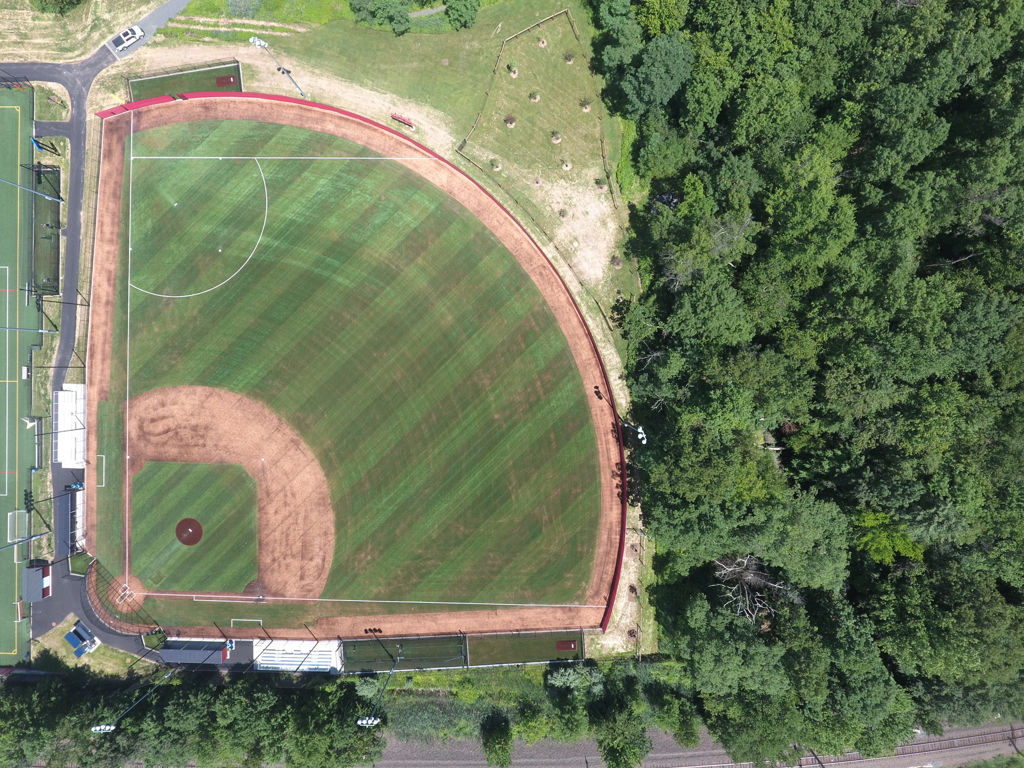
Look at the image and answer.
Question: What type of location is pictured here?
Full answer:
What you see here is a sports ground.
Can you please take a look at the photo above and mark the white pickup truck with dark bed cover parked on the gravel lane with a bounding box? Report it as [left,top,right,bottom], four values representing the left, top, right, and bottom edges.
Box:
[111,24,143,51]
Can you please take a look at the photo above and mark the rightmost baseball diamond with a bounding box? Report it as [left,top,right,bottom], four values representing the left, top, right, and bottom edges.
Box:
[86,98,623,640]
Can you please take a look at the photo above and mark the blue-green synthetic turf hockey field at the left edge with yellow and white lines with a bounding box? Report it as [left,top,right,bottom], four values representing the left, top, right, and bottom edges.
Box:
[0,86,42,666]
